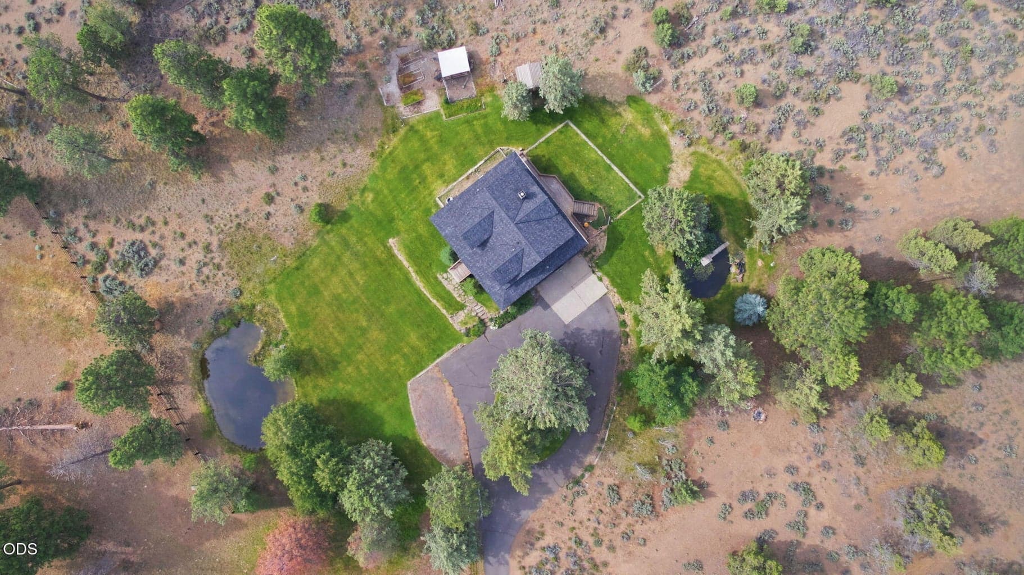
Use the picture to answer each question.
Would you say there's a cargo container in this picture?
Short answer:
No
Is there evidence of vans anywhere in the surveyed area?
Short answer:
No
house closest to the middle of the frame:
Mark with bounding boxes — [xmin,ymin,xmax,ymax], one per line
[429,151,595,312]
